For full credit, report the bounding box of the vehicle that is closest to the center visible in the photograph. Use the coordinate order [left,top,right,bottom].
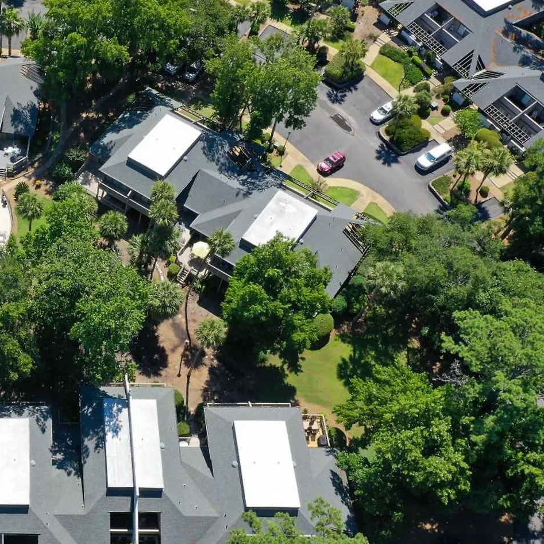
[312,147,350,178]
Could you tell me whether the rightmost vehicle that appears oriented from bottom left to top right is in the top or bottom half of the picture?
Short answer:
top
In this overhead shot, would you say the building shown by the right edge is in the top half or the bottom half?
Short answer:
top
